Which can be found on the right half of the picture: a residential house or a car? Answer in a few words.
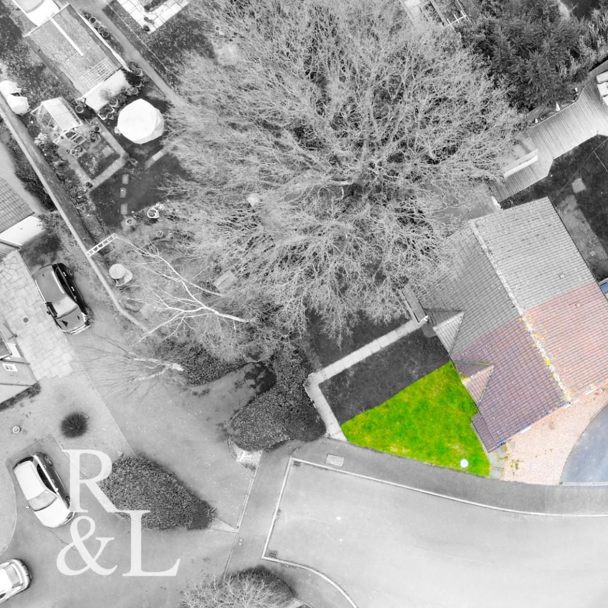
residential house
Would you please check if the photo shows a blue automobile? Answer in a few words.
No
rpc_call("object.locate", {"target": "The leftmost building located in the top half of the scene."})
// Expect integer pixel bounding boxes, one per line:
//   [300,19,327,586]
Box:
[0,176,45,259]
